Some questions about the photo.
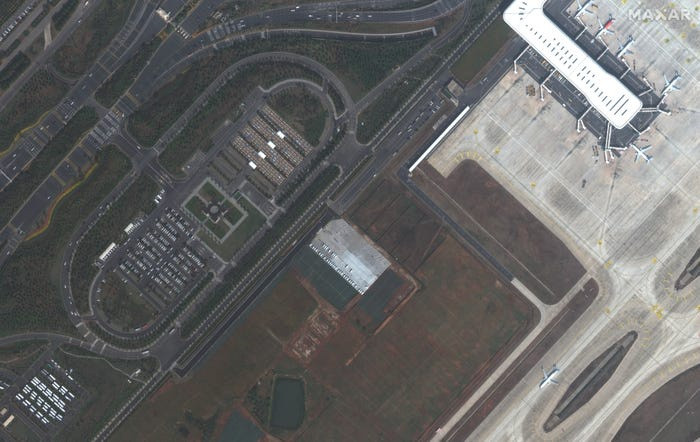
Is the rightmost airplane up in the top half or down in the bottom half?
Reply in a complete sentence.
You can find the rightmost airplane in the top half.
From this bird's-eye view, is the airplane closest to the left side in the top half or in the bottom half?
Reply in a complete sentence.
The airplane closest to the left side is in the bottom half of the image.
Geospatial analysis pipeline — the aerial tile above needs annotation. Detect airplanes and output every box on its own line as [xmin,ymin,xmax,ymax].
[619,36,637,57]
[595,16,617,38]
[630,143,652,164]
[576,0,596,16]
[662,74,684,94]
[541,367,561,387]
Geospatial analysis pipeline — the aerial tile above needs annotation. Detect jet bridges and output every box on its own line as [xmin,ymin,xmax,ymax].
[576,17,588,40]
[606,123,627,162]
[597,36,610,59]
[541,70,556,100]
[628,122,650,135]
[639,79,654,96]
[514,44,530,74]
[578,107,592,132]
[622,59,632,76]
[642,94,670,114]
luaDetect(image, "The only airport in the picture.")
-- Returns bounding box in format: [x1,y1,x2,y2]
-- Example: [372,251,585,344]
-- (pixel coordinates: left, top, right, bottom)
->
[428,0,700,442]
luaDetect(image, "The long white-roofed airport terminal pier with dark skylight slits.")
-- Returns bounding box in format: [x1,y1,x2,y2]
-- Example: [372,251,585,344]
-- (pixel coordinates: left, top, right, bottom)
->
[502,0,643,129]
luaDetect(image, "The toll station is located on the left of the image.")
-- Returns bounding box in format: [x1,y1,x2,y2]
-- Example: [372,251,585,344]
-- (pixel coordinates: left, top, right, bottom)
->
[156,8,192,43]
